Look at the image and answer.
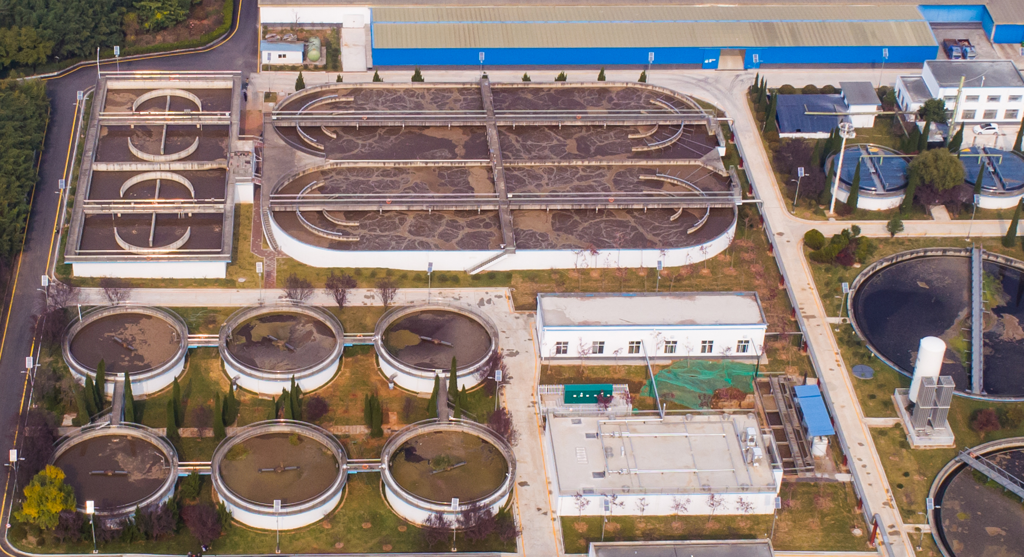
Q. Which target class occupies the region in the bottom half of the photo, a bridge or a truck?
bridge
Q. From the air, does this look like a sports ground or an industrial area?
industrial area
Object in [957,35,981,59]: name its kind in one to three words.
truck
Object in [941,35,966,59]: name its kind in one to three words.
truck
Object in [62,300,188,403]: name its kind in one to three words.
storage tank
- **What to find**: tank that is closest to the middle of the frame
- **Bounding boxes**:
[374,298,499,401]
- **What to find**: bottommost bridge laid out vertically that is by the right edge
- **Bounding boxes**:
[959,240,991,399]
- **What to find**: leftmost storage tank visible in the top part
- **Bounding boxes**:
[65,68,243,278]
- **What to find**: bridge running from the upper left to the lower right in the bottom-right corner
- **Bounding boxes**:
[957,447,1024,501]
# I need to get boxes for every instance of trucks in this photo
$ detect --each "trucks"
[941,35,966,59]
[957,35,981,59]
